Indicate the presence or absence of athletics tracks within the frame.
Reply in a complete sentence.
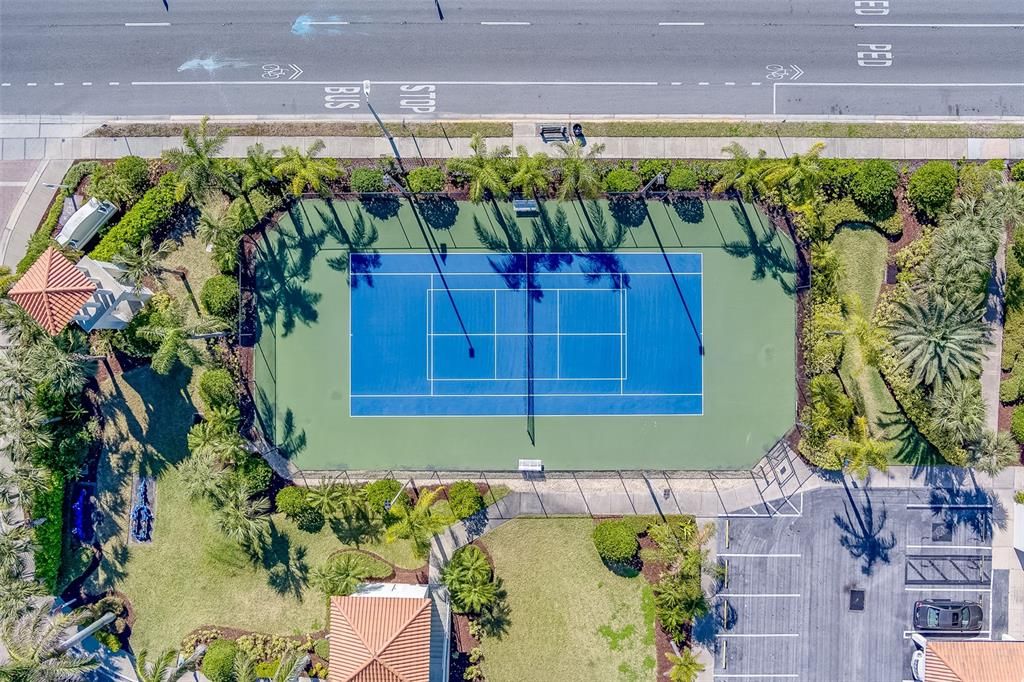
No, there appears to be no athletics track in this shot.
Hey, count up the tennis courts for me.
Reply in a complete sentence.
My tally gives 1 tennis court in this photo.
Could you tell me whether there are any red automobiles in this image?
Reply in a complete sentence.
No, this view has no red automobile in it.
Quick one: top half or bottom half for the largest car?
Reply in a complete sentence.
The largest car is in the bottom half of the image.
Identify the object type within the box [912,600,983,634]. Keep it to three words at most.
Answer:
car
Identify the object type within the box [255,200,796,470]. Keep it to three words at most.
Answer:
tennis court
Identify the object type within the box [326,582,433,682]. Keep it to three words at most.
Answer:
house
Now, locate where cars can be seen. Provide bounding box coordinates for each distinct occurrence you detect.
[911,645,923,675]
[912,600,983,634]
